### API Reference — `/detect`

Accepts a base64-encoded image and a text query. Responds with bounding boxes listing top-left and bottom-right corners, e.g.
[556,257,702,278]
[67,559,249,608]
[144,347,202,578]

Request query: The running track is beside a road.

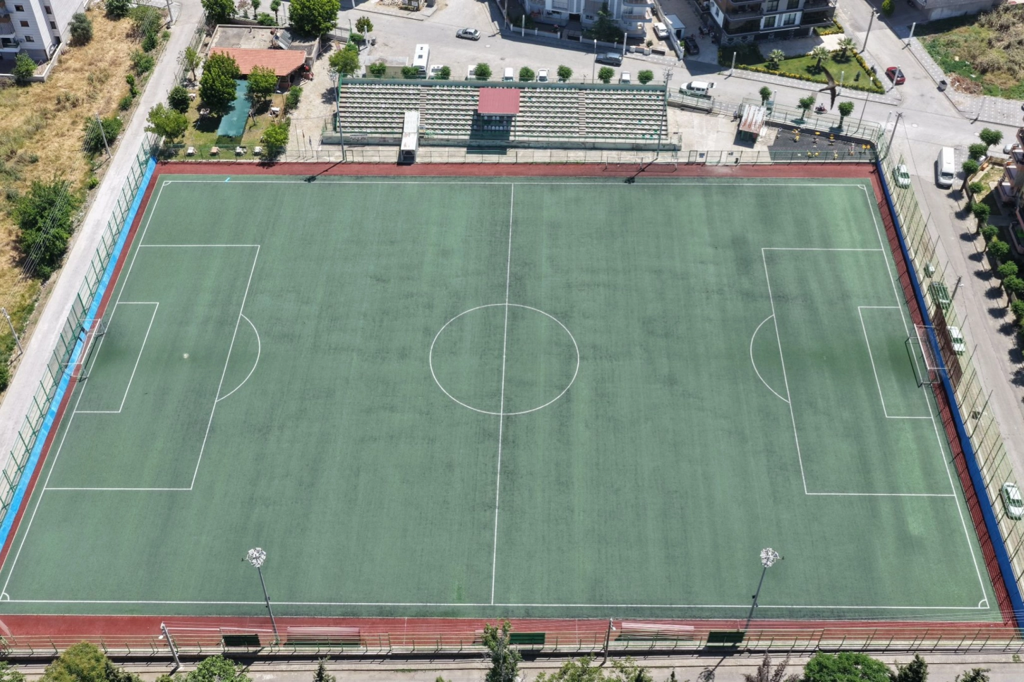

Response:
[0,162,1020,647]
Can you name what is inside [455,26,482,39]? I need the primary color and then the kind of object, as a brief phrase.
gray vehicle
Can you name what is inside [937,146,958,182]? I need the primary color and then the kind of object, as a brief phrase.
white vehicle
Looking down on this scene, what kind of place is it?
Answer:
sports ground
